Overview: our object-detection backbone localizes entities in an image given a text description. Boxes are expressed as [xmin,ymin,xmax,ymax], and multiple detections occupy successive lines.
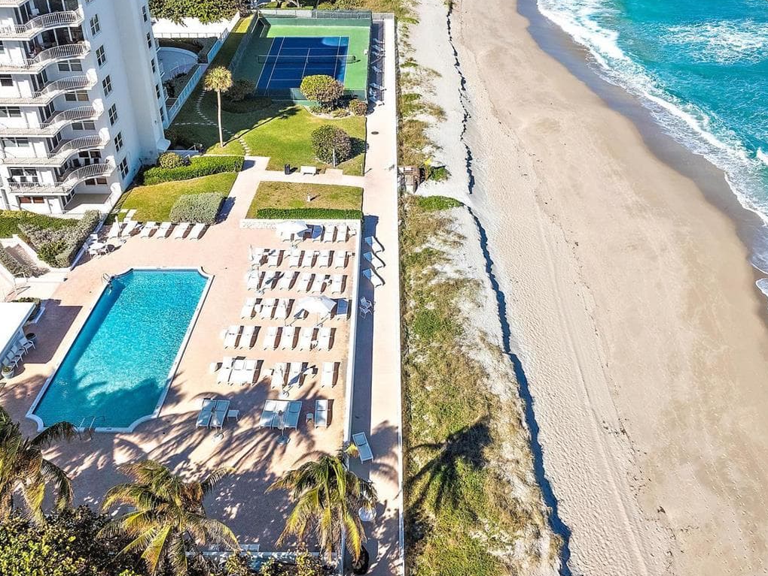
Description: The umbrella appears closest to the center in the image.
[298,292,339,327]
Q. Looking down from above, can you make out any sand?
Yes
